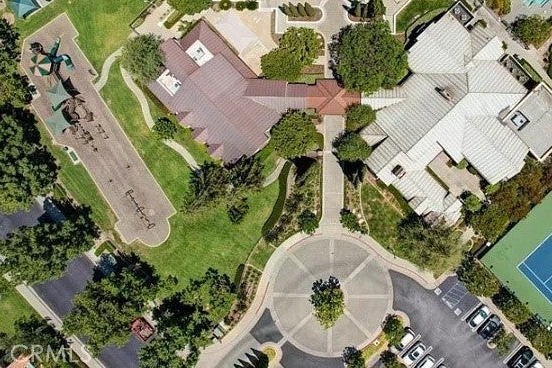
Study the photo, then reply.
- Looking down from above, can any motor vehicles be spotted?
Yes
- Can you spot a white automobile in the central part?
No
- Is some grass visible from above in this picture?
Yes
